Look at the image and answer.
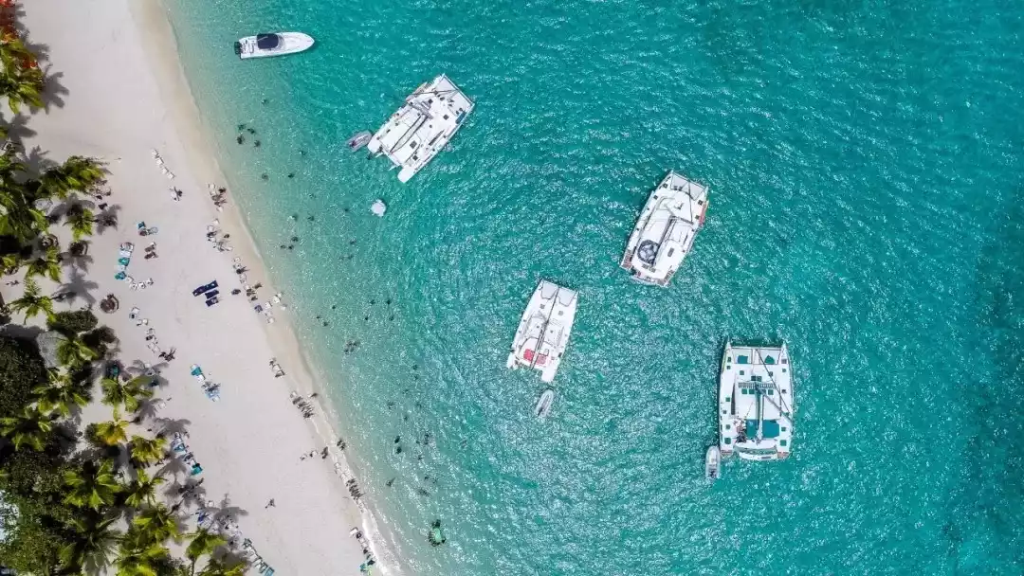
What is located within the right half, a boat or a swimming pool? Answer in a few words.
boat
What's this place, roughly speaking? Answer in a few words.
beach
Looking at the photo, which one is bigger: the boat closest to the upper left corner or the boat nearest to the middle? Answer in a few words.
the boat nearest to the middle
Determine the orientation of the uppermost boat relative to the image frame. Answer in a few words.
horizontally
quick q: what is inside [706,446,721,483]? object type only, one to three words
boat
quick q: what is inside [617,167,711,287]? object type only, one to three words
boat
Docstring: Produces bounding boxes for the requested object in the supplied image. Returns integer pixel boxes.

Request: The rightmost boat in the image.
[718,327,795,459]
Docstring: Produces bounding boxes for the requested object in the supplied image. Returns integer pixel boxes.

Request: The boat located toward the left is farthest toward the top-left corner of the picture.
[233,32,314,59]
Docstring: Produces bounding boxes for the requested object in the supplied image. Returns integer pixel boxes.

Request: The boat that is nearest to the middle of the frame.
[509,272,577,380]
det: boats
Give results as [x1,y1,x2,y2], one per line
[617,167,711,287]
[370,73,474,181]
[233,32,314,59]
[509,272,577,380]
[534,389,551,420]
[718,327,795,459]
[344,130,373,150]
[706,446,721,483]
[701,201,707,225]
